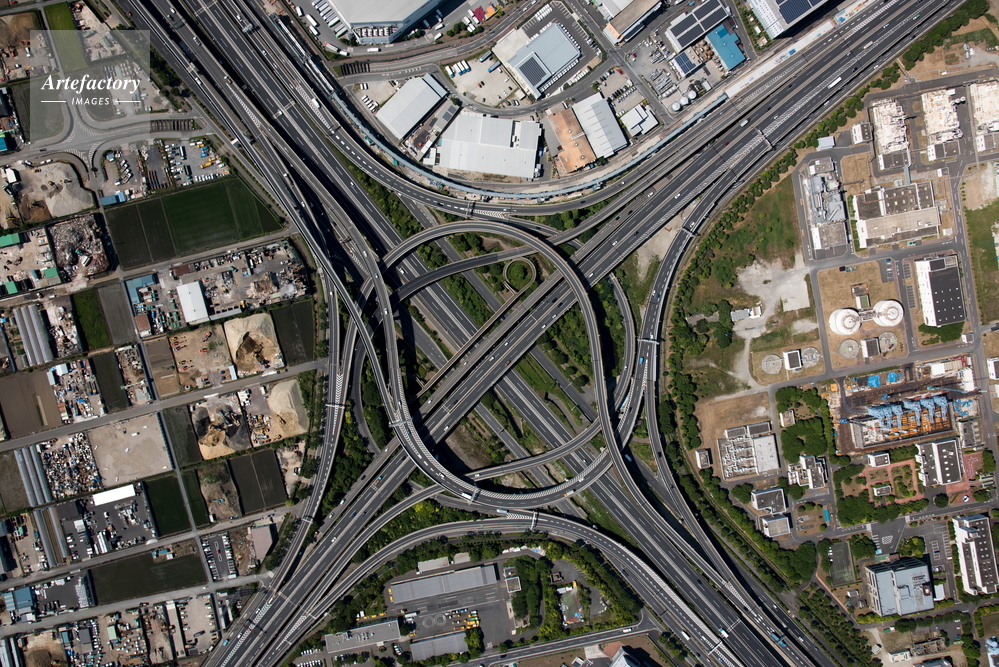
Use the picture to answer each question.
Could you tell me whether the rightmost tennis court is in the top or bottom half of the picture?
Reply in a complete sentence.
You can find the rightmost tennis court in the bottom half.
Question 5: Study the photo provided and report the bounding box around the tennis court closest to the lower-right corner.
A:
[830,542,857,588]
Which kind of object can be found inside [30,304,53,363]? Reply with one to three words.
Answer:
greenhouse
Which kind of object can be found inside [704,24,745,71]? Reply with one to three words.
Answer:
building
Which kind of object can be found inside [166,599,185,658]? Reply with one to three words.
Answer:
shed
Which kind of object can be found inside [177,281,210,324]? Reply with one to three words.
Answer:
building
